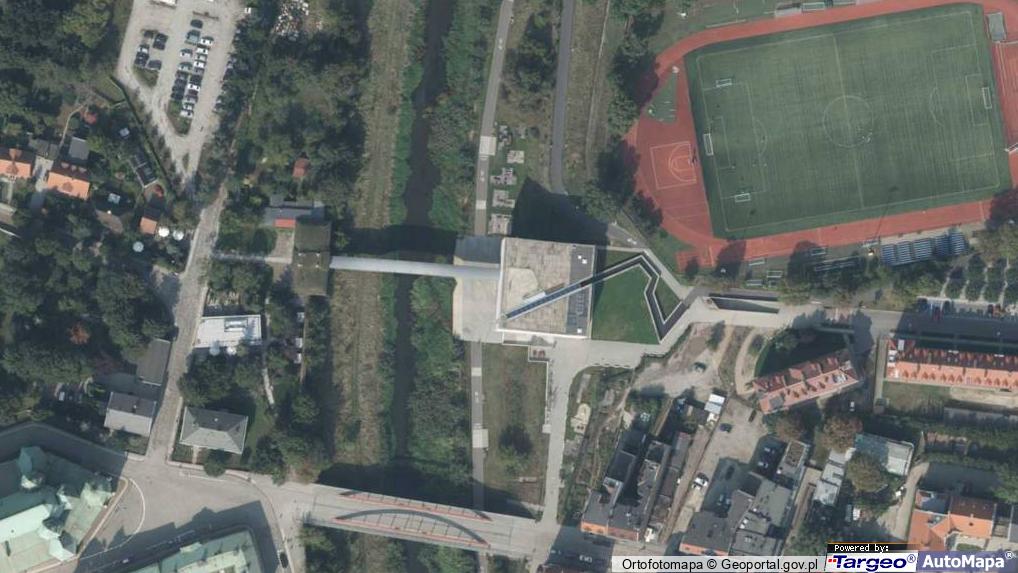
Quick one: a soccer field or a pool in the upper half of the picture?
soccer field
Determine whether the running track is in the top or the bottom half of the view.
top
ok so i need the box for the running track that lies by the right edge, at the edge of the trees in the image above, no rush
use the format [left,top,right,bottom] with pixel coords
[624,0,1018,273]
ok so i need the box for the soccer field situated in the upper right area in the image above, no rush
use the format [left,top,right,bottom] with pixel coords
[686,3,1012,240]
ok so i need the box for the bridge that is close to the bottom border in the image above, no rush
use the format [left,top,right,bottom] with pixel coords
[303,484,548,556]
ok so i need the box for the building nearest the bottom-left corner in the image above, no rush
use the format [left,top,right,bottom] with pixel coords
[0,455,119,573]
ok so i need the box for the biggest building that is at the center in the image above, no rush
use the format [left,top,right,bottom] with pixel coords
[496,237,596,338]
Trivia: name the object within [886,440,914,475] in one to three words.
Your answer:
building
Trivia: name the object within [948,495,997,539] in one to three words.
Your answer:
house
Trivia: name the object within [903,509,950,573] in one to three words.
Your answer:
house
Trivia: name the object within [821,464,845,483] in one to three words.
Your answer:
shed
